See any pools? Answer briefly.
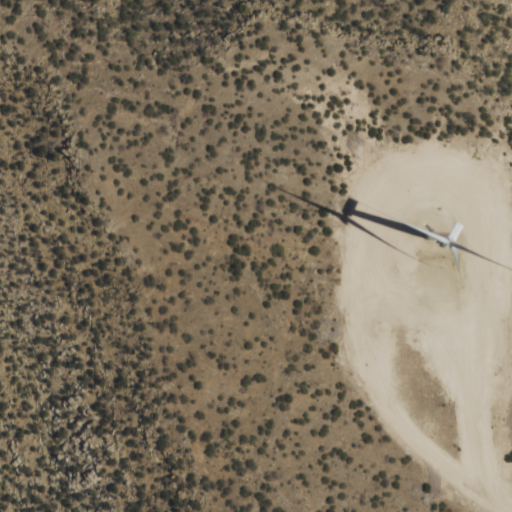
No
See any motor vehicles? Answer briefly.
No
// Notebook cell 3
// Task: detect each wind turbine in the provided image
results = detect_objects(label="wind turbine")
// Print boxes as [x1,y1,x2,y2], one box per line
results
[354,203,512,272]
